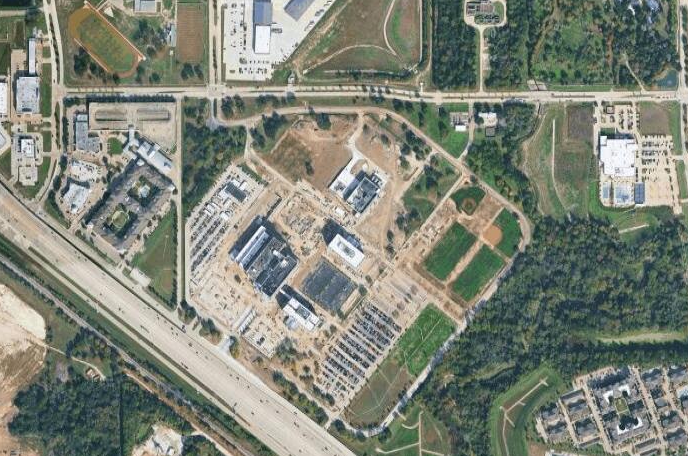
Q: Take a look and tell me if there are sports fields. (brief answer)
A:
Yes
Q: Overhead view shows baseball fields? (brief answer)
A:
Yes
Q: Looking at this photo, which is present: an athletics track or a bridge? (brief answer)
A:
athletics track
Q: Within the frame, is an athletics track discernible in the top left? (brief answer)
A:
Yes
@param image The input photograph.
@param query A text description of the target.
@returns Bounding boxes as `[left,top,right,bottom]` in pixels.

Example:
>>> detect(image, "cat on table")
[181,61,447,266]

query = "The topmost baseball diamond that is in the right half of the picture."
[451,187,486,221]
